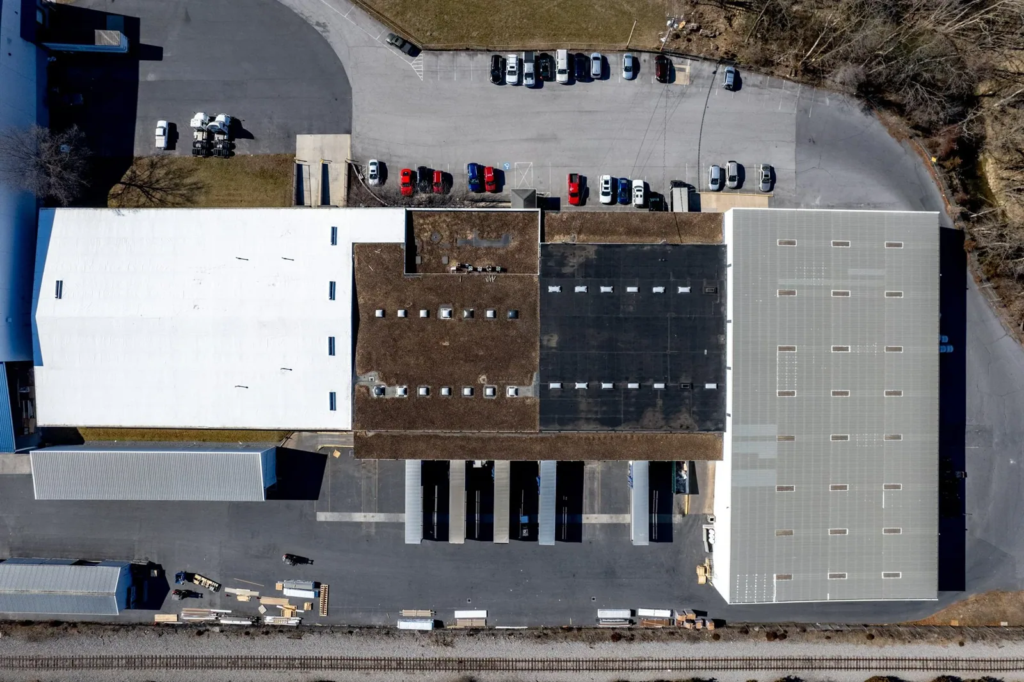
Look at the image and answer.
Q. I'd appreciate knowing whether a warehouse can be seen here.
Yes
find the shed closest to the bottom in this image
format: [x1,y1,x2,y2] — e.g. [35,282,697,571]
[0,559,132,616]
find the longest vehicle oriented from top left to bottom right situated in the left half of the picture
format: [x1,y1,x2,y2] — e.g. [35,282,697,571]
[386,31,421,60]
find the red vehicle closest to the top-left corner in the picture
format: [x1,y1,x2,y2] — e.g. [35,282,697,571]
[400,168,413,197]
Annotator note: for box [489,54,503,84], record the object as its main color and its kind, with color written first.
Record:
black car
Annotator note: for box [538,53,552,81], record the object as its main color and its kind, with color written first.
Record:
black car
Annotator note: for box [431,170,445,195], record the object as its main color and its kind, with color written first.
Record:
red car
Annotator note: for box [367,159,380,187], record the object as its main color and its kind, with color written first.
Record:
white vehicle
